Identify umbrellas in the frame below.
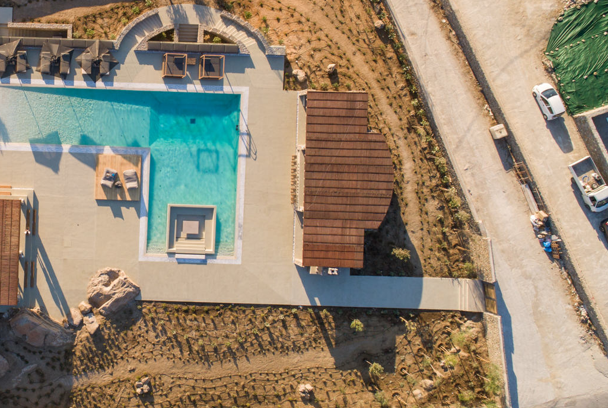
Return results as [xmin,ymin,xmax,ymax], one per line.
[76,41,119,82]
[36,42,74,79]
[0,40,31,79]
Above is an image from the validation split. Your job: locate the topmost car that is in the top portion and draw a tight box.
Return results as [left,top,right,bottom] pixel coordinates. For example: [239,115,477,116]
[531,78,570,123]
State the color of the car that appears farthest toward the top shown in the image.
white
